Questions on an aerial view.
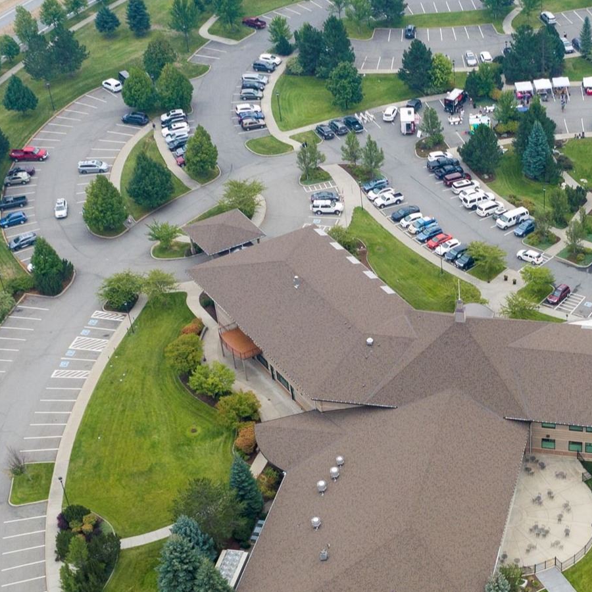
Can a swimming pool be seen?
No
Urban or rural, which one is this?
urban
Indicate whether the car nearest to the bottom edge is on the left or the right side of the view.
right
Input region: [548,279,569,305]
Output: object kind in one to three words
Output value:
car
